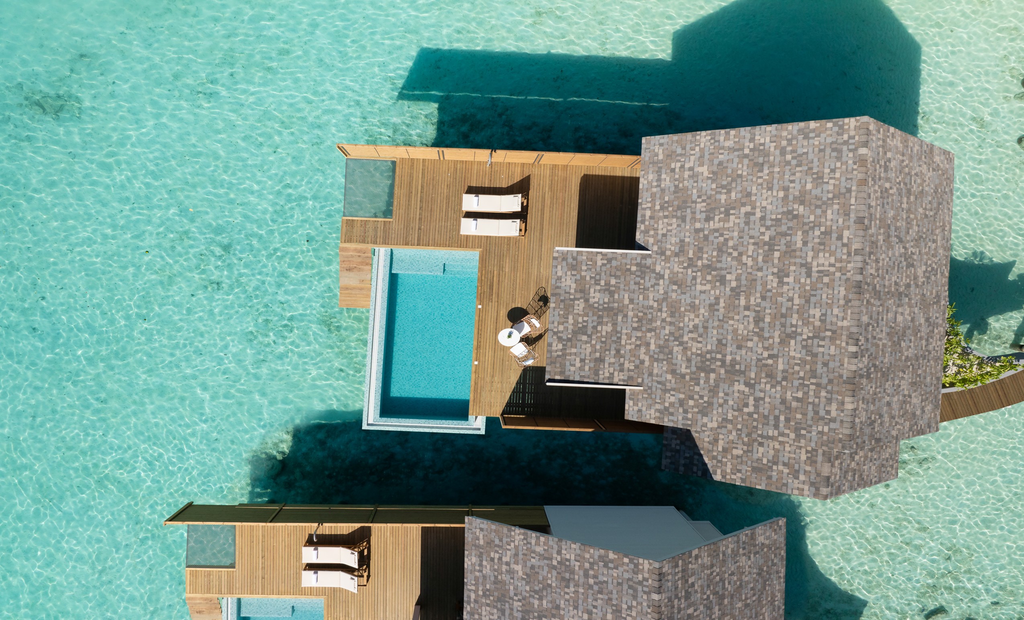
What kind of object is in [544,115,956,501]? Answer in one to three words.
house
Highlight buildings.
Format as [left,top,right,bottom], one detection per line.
[544,115,956,501]
[465,506,782,620]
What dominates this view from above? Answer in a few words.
water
